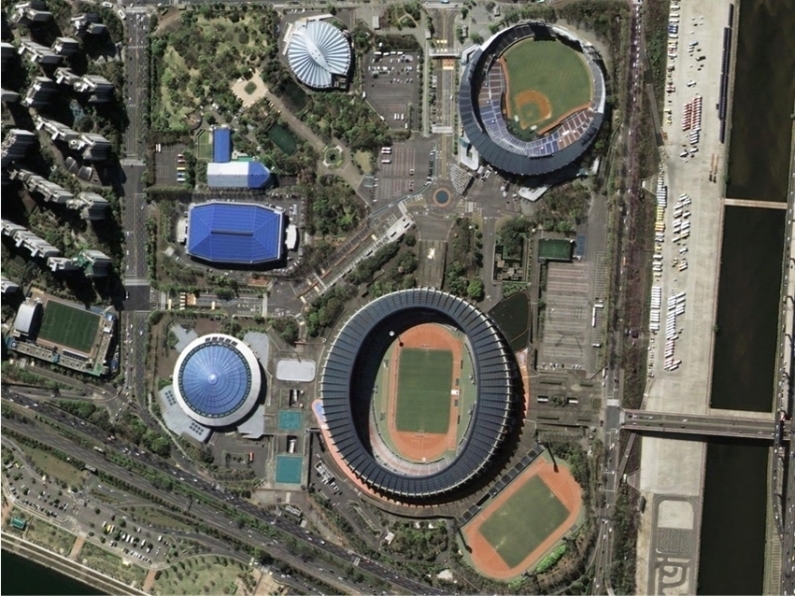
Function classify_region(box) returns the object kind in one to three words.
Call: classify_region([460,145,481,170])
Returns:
building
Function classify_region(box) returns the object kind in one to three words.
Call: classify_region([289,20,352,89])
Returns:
building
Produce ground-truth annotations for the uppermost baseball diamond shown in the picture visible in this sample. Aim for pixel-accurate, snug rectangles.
[501,37,593,143]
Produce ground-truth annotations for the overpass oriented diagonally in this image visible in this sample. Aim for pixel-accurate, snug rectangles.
[319,219,415,296]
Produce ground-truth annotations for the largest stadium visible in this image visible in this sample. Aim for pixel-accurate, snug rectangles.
[319,283,521,503]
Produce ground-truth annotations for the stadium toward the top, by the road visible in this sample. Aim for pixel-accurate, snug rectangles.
[460,19,606,175]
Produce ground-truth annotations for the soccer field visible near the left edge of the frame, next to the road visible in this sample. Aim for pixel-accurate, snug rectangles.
[30,290,106,363]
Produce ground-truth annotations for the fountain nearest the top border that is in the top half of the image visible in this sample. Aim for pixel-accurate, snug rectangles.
[321,145,342,168]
